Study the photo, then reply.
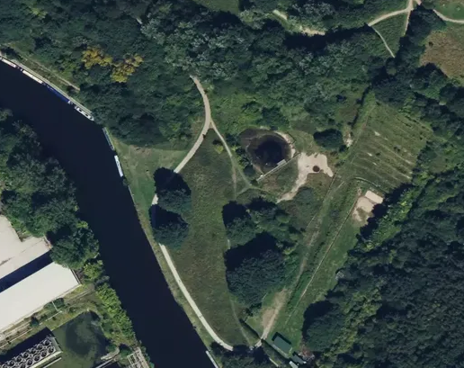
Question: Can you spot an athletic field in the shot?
No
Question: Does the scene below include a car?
No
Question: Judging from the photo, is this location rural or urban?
rural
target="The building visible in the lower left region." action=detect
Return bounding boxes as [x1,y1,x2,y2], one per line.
[0,265,81,331]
